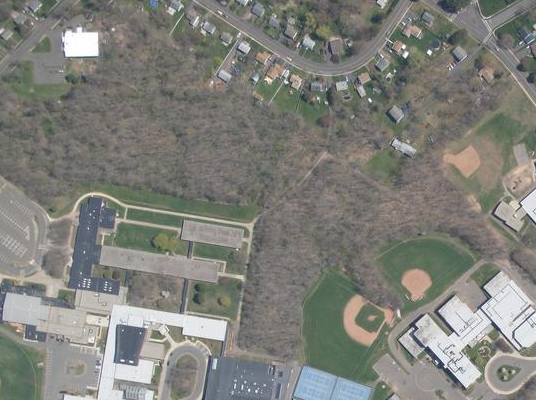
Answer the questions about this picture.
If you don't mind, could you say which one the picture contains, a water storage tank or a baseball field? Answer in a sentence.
This aerial view contains a baseball field.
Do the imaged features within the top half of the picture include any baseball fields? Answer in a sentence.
No, I can find no baseball field within the top half of the picture.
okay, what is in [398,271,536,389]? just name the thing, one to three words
building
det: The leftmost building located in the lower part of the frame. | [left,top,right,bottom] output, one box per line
[2,197,245,400]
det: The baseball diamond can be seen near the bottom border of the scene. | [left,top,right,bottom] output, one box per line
[300,270,401,388]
